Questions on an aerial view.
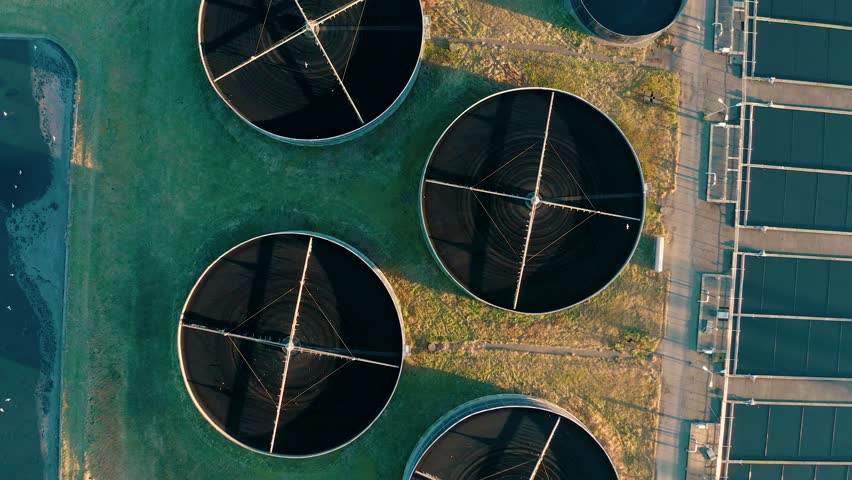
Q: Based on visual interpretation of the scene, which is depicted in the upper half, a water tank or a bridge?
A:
water tank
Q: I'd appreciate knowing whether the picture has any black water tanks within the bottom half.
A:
Yes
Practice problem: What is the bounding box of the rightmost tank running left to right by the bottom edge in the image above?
[404,393,620,480]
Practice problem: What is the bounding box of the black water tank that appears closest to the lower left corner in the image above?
[179,232,407,458]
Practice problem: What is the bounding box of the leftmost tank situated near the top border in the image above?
[198,0,424,148]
